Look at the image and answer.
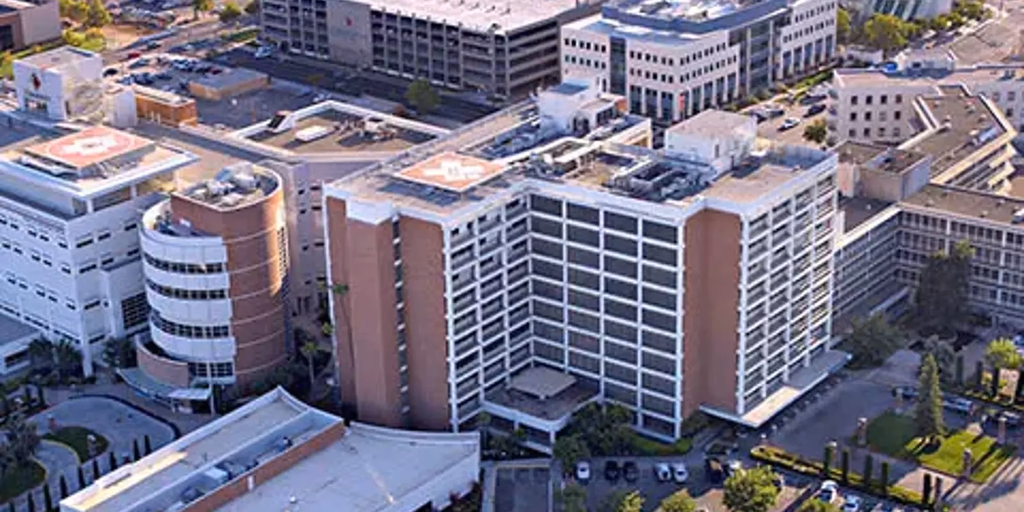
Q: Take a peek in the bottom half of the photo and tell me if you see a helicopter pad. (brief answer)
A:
No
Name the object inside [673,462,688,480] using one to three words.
car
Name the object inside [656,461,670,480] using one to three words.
car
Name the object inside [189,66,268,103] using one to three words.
building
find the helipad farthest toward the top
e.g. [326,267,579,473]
[21,126,155,173]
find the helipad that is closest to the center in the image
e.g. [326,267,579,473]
[389,151,506,198]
